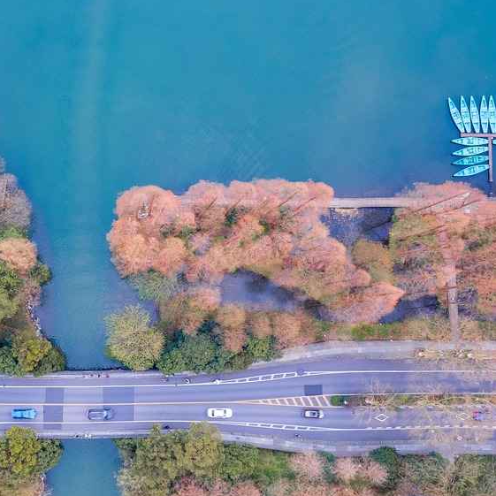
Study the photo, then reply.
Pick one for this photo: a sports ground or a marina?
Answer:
marina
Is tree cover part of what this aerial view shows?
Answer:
Yes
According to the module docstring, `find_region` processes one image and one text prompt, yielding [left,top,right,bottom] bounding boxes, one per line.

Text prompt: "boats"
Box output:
[453,146,488,155]
[448,97,466,133]
[452,155,488,165]
[461,95,472,133]
[482,95,489,133]
[453,163,488,176]
[451,137,488,145]
[472,95,482,133]
[489,94,496,133]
